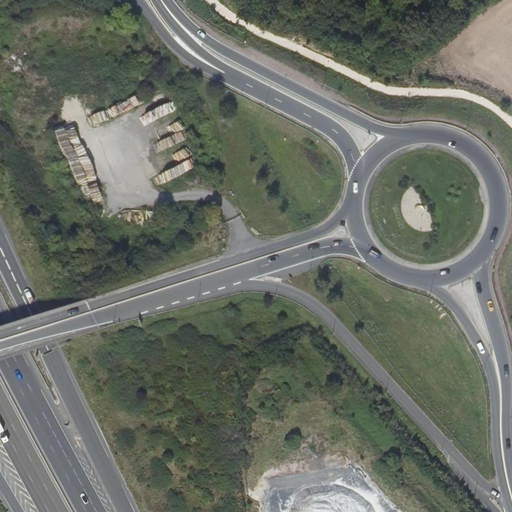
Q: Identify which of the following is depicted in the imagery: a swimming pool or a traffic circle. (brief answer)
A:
traffic circle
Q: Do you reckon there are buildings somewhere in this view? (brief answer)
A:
No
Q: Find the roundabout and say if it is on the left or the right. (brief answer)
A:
right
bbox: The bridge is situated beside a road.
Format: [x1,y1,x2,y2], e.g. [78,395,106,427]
[0,292,116,359]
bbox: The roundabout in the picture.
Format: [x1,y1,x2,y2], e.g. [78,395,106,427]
[344,124,508,288]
